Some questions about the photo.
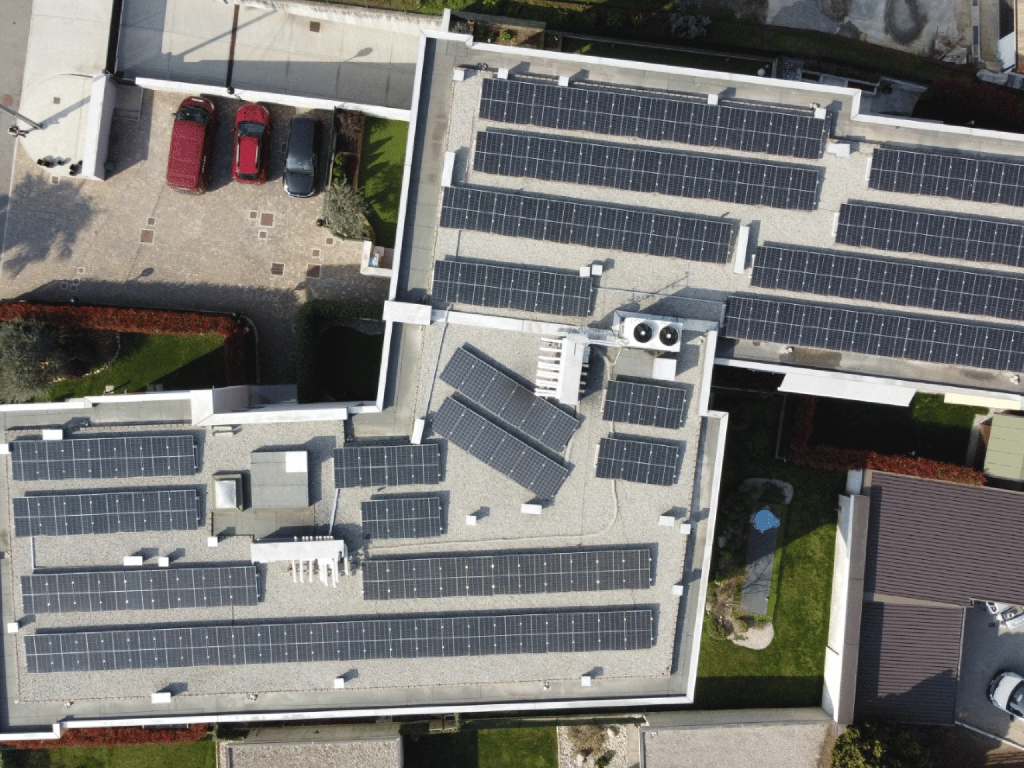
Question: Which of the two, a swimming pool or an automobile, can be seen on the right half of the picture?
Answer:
automobile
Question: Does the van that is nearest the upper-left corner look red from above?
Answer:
Yes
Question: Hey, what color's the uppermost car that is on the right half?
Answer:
white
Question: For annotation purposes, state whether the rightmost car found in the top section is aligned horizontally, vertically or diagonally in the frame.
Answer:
vertically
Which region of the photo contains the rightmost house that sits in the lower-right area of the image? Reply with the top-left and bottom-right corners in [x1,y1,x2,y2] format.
[854,474,1024,726]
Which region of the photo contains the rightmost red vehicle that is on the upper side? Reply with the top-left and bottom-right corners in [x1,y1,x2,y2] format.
[229,105,272,187]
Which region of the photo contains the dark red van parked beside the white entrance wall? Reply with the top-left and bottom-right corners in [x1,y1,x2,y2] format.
[162,98,219,196]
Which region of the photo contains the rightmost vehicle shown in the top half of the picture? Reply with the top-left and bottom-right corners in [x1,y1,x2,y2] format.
[279,115,323,200]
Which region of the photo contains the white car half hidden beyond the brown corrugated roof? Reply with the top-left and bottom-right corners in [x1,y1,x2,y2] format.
[990,606,1024,638]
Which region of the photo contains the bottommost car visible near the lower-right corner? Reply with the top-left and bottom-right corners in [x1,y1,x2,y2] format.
[981,674,1024,726]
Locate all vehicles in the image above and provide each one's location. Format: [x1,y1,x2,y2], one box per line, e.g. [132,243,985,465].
[981,674,1024,726]
[990,606,1024,638]
[279,115,323,200]
[229,105,272,187]
[162,98,219,196]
